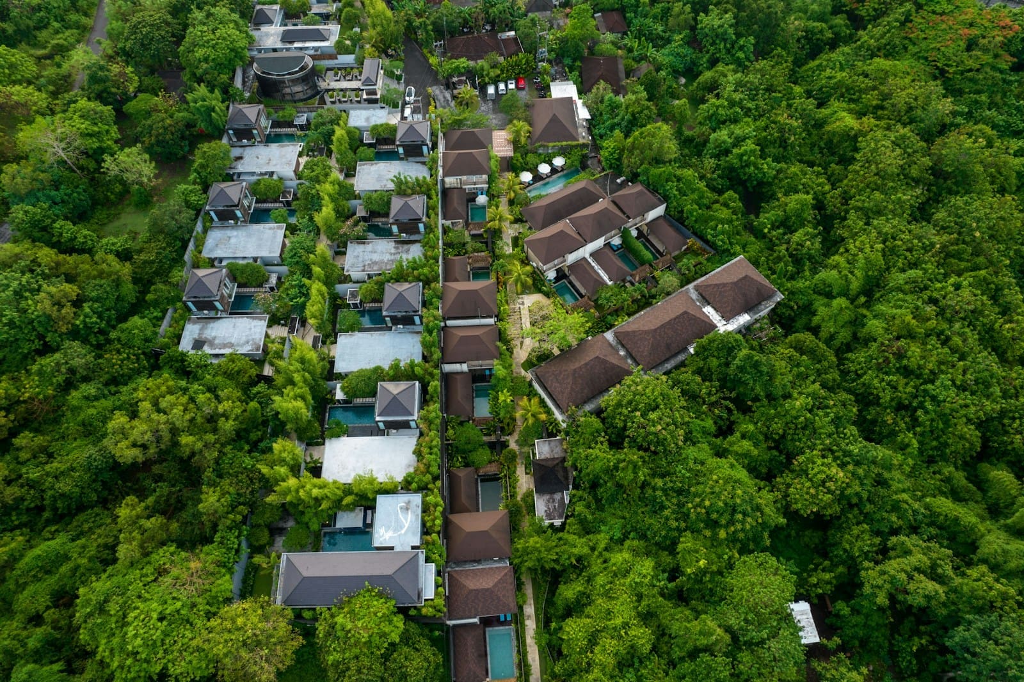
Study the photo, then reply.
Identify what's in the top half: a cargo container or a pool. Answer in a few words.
pool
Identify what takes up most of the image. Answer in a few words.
trees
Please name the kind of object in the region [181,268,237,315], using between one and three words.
building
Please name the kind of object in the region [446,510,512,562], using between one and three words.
house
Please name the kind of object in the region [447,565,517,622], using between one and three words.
house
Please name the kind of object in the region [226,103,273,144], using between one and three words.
building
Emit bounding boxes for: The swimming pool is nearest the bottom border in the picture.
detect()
[485,627,516,681]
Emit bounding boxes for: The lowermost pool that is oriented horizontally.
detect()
[320,529,376,551]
